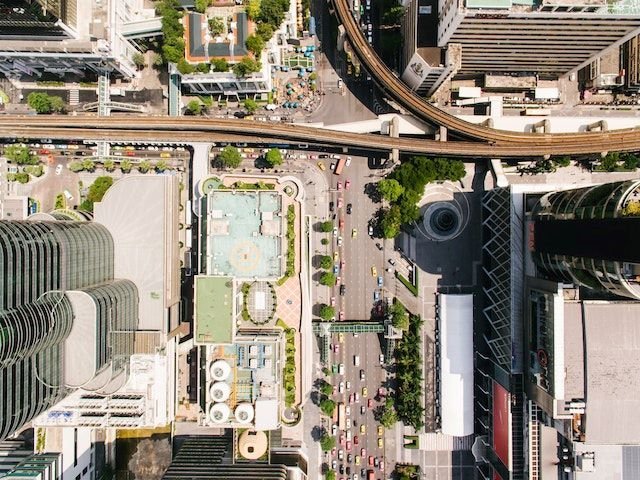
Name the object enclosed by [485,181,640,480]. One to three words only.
building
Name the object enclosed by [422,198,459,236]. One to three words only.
fountain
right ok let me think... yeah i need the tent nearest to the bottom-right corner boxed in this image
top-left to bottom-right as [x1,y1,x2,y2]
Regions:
[435,292,476,439]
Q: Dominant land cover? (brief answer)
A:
buildings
